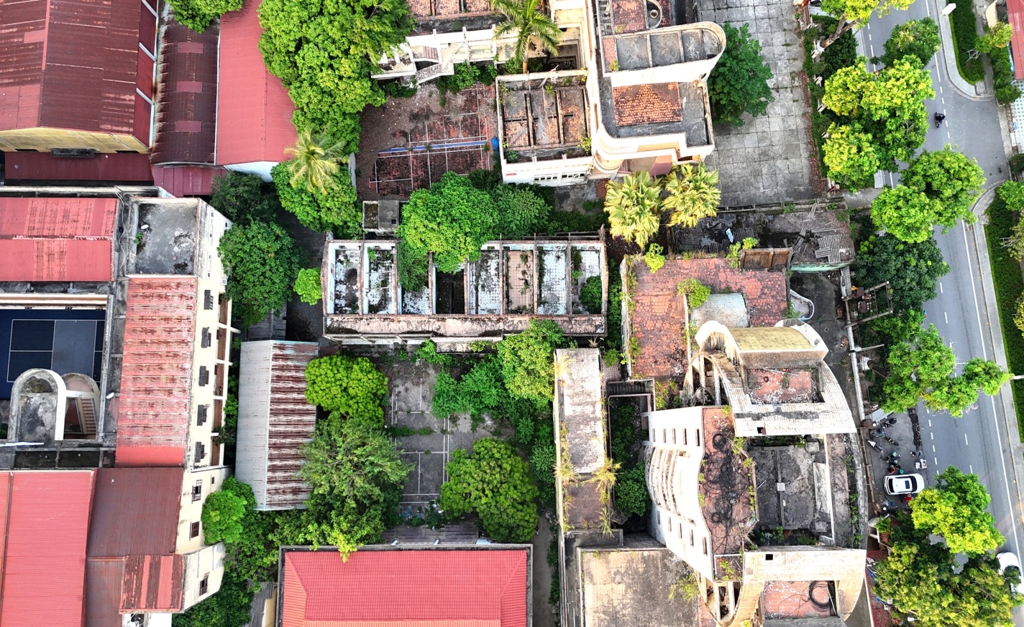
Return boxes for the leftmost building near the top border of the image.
[0,0,165,188]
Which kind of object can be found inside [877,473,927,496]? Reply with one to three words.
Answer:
car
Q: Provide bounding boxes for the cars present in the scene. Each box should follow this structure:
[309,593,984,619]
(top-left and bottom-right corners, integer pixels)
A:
[994,555,1024,605]
[877,473,927,496]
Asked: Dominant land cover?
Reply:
buildings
